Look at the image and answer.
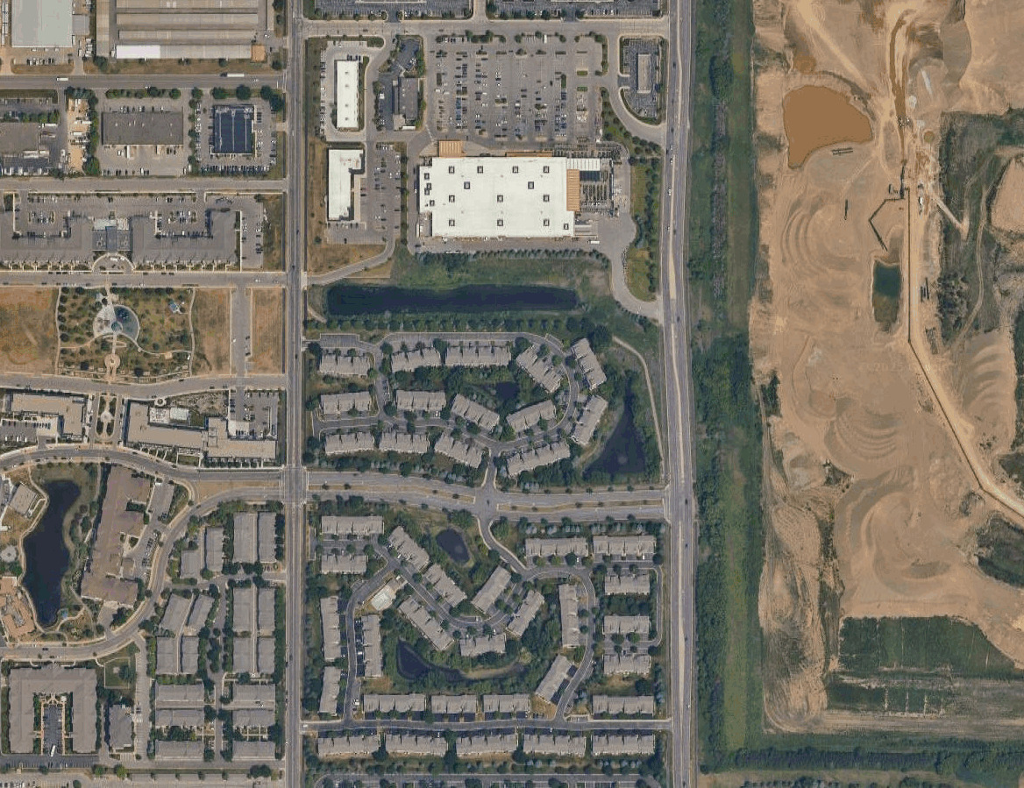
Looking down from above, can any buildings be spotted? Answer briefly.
Yes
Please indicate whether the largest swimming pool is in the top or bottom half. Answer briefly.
bottom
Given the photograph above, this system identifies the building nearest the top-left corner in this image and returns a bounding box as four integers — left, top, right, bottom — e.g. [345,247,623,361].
[10,0,72,50]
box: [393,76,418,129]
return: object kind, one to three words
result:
building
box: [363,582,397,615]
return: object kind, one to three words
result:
swimming pool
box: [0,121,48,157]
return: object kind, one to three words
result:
building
